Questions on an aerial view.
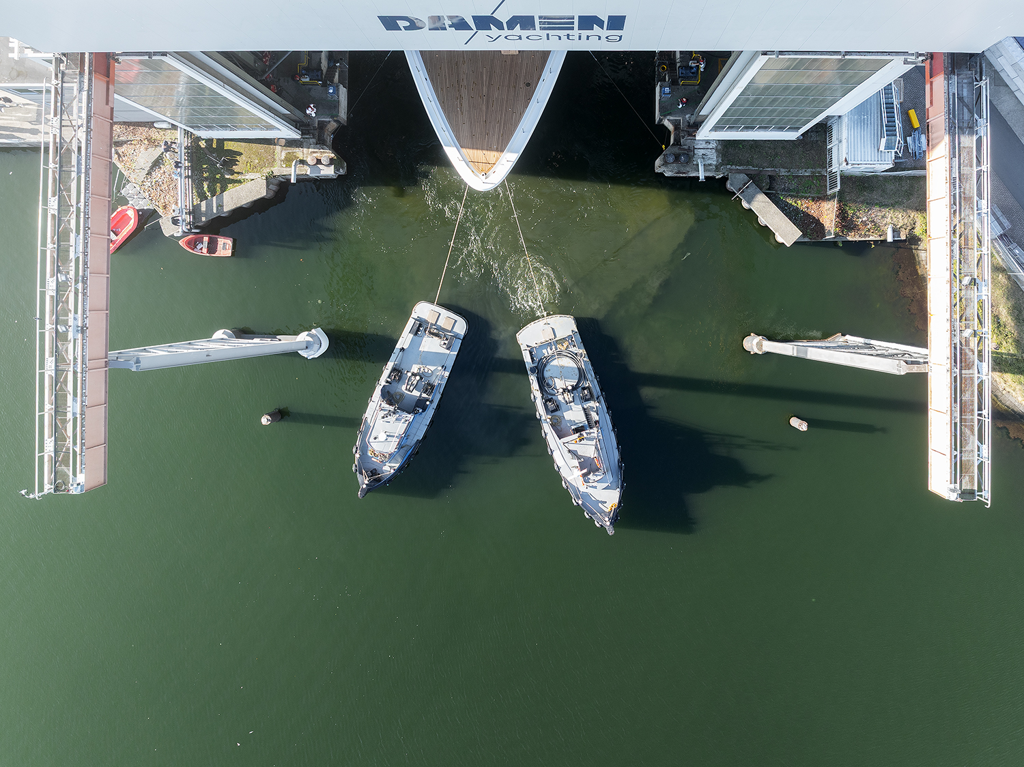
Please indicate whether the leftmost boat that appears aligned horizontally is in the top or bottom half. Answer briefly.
top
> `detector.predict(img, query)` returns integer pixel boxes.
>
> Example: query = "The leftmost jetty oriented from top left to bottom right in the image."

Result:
[118,180,156,219]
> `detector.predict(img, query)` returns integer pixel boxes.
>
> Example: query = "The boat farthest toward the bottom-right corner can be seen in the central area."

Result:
[515,313,626,537]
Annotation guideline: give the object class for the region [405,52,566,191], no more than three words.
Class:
boat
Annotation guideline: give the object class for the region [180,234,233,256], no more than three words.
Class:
boat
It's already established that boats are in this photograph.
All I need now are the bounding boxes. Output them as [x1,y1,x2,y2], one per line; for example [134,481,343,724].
[351,299,470,500]
[180,234,233,256]
[114,206,140,252]
[515,313,626,537]
[405,52,566,191]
